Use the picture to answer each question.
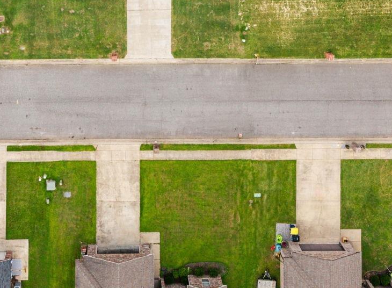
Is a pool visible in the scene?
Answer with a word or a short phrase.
No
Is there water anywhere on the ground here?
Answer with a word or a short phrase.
No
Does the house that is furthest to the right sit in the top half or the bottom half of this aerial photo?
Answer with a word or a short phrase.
bottom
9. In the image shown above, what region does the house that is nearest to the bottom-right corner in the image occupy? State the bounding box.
[281,242,362,288]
